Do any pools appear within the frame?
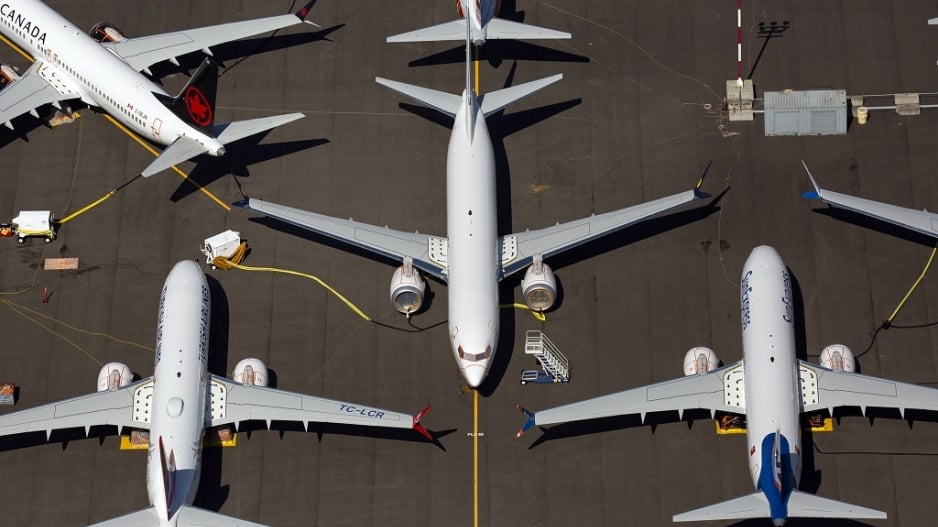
No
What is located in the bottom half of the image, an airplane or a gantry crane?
airplane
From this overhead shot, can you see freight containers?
Yes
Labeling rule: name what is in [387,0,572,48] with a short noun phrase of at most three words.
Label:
airplane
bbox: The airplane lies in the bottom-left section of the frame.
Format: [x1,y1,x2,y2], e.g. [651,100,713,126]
[0,259,431,527]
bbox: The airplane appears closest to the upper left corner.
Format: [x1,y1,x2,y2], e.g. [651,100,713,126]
[0,0,321,177]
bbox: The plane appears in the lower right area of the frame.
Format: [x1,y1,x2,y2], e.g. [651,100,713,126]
[518,246,938,527]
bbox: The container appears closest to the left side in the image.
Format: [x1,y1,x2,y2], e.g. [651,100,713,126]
[764,90,845,134]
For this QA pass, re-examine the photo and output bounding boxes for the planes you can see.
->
[803,162,938,237]
[233,3,711,390]
[928,16,938,22]
[387,0,572,48]
[0,259,431,527]
[518,246,938,527]
[0,0,321,177]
